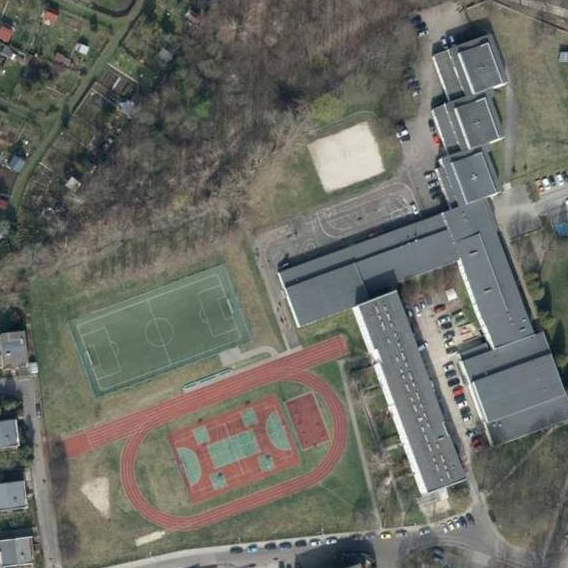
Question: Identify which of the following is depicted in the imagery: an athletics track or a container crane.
athletics track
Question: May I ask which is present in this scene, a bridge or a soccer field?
soccer field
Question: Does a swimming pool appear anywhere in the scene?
No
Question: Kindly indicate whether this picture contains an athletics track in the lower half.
Yes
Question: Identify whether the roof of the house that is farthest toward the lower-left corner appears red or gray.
gray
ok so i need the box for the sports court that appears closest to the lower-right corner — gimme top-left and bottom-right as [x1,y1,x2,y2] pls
[284,392,328,449]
